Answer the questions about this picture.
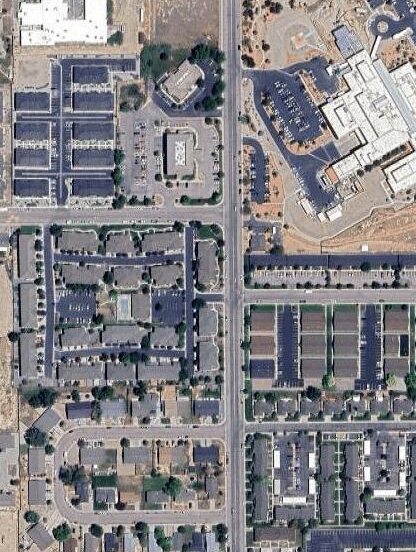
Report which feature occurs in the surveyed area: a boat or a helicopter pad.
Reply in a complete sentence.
It is a helicopter pad that can be seen here.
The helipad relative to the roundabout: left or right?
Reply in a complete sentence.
The helipad appears to the left of the roundabout in this view.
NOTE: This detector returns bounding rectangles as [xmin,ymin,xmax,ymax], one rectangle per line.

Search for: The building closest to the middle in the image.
[194,241,220,290]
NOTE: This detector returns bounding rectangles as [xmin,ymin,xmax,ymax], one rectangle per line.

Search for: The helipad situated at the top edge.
[266,16,328,68]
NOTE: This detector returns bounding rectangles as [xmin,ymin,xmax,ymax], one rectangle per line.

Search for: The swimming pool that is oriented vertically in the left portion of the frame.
[118,293,131,319]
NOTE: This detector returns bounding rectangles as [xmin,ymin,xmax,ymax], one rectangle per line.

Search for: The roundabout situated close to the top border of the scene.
[368,11,407,39]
